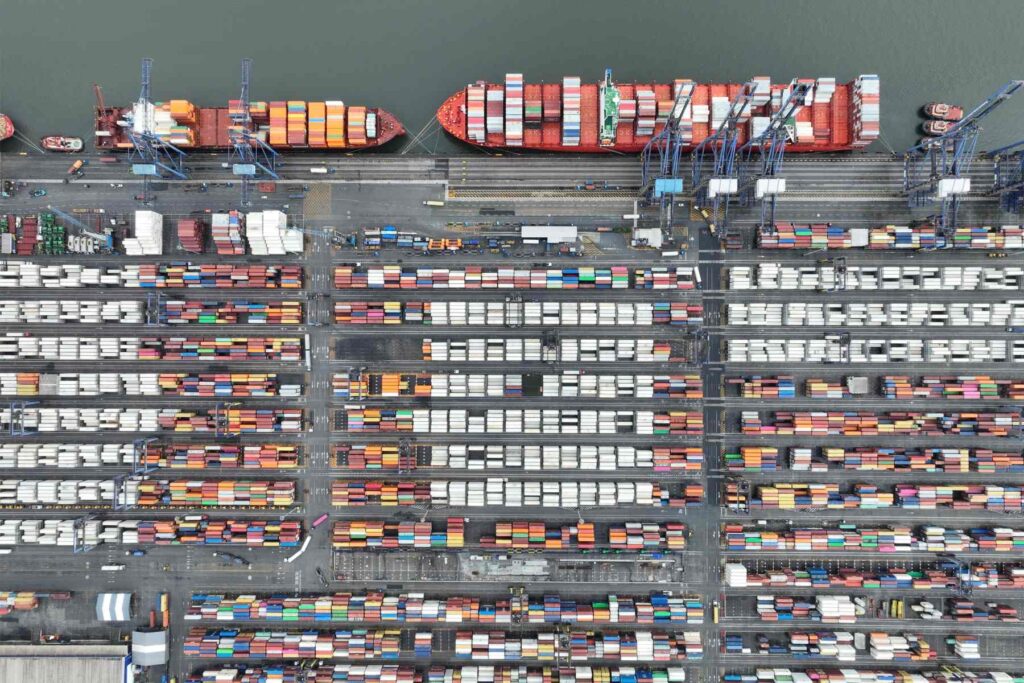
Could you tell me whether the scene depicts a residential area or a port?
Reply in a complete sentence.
This image shows a port.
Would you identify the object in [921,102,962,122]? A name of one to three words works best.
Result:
boat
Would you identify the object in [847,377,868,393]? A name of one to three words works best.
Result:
building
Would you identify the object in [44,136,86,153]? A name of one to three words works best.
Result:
boat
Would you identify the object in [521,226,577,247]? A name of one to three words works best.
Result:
shed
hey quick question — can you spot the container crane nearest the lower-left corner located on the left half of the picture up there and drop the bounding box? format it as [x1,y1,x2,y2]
[72,512,103,552]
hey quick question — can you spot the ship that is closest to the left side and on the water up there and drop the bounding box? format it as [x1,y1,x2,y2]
[0,115,22,143]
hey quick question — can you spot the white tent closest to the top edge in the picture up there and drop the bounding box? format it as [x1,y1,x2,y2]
[93,591,134,621]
